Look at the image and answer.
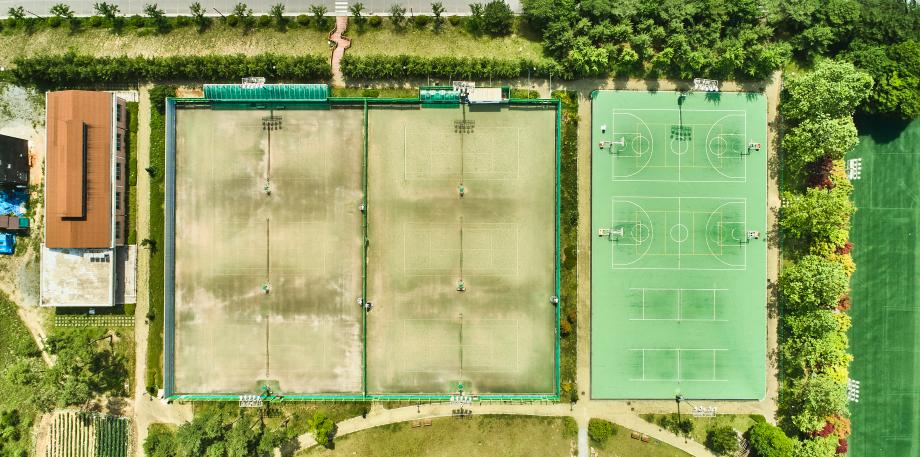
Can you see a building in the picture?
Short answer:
Yes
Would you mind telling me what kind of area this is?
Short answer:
sports ground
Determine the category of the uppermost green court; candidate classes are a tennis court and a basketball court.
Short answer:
basketball court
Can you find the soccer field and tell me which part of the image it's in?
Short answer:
right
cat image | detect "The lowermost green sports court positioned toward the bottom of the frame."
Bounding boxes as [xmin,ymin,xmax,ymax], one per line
[593,335,766,400]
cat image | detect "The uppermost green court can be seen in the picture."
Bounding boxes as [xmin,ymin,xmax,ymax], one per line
[593,92,766,189]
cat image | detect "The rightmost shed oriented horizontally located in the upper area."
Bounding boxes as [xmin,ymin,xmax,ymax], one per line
[468,88,501,101]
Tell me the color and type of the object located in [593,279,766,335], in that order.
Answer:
green sports court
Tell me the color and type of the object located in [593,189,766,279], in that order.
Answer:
green basketball court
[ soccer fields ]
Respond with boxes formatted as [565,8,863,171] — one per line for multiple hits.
[848,96,920,457]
